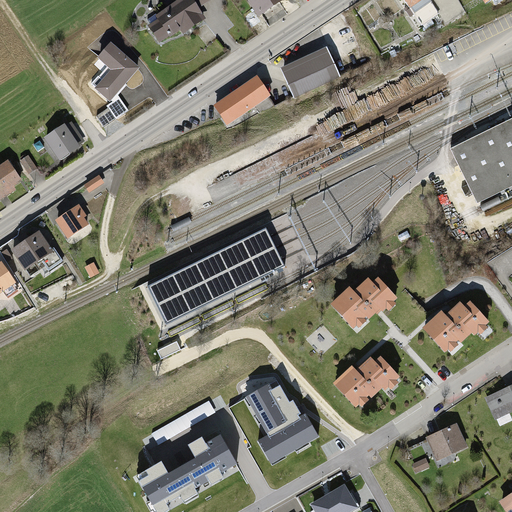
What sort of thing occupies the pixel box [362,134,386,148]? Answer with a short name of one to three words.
rail car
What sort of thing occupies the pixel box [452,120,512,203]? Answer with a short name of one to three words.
building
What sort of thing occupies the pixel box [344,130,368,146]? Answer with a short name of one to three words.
rail car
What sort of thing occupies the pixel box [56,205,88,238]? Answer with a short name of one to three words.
house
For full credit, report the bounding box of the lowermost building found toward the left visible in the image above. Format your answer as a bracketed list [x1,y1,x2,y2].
[133,436,238,512]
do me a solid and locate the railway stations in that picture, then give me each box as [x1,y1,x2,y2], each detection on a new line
[166,135,402,258]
